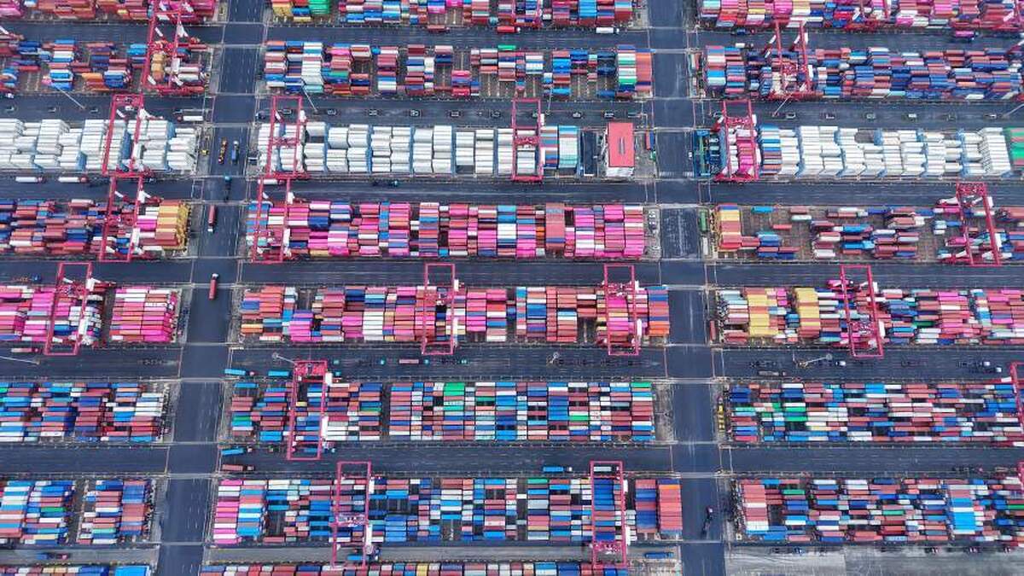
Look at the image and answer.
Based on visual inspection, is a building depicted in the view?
Yes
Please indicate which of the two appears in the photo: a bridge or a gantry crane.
gantry crane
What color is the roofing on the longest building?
red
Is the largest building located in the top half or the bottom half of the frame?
top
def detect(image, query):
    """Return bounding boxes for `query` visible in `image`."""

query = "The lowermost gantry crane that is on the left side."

[331,462,382,567]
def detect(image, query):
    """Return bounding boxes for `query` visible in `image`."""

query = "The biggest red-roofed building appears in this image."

[607,122,634,174]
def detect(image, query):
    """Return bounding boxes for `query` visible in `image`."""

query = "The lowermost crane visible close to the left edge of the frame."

[42,262,109,354]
